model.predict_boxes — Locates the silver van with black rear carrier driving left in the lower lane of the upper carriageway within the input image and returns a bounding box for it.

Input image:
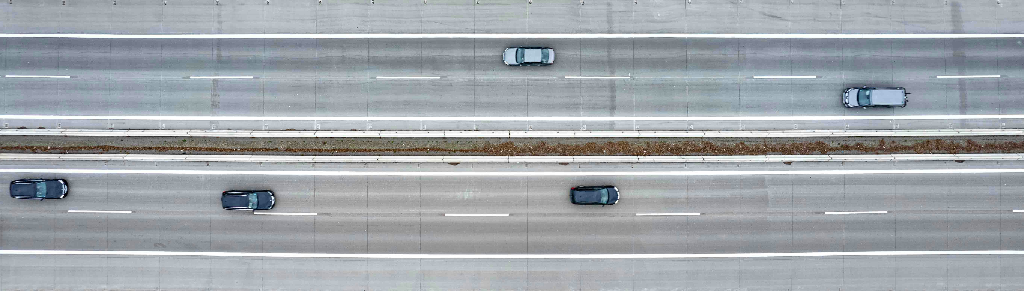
[843,86,912,110]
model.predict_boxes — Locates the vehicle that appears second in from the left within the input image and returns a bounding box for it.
[221,189,275,212]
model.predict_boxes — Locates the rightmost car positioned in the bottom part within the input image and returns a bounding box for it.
[570,184,620,207]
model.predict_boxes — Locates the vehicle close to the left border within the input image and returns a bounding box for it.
[9,177,69,201]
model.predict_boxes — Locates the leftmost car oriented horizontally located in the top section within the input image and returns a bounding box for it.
[502,45,555,68]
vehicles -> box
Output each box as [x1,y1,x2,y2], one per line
[502,45,555,68]
[9,177,69,201]
[843,86,912,110]
[570,184,620,207]
[221,189,275,212]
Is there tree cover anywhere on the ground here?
No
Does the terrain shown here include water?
No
